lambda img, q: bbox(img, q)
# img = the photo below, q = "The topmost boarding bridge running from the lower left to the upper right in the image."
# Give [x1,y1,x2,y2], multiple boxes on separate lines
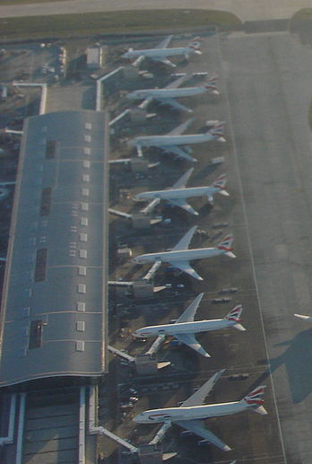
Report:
[97,54,154,109]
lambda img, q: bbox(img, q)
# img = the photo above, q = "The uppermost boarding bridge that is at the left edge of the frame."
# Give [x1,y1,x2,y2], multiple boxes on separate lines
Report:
[10,81,47,110]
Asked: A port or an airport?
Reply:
airport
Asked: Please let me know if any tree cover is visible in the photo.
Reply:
No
